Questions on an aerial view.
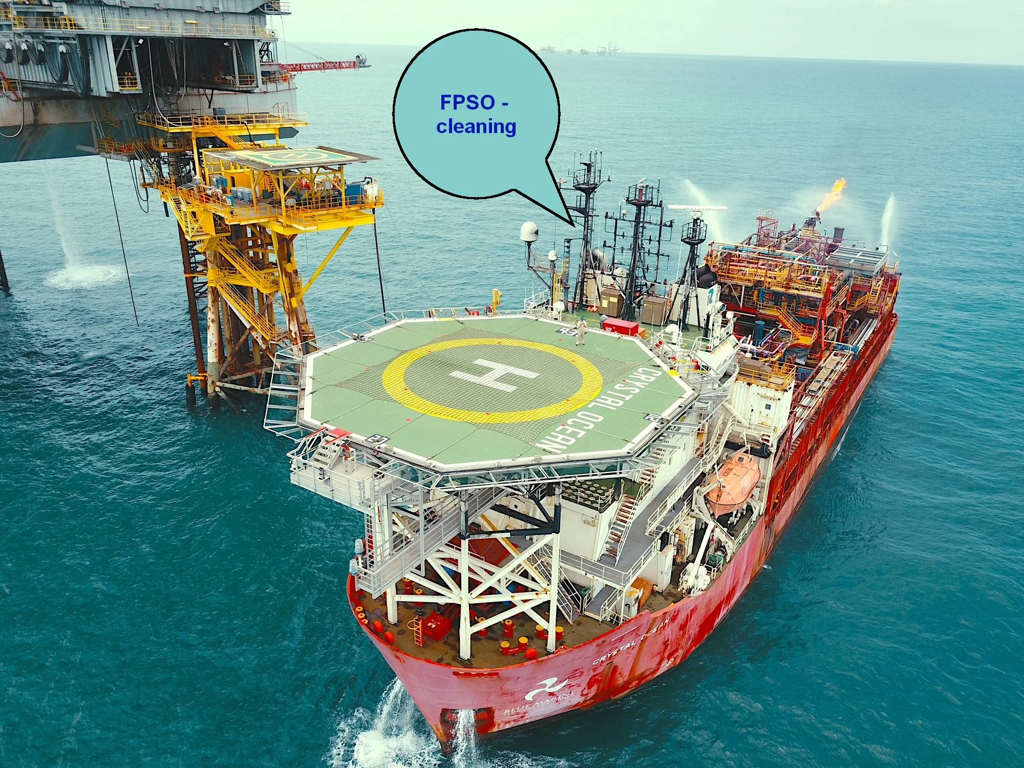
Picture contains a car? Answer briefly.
No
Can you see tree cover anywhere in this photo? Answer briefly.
No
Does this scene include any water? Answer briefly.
Yes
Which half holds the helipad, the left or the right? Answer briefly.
left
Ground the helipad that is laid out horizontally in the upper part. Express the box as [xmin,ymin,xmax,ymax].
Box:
[205,146,381,231]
